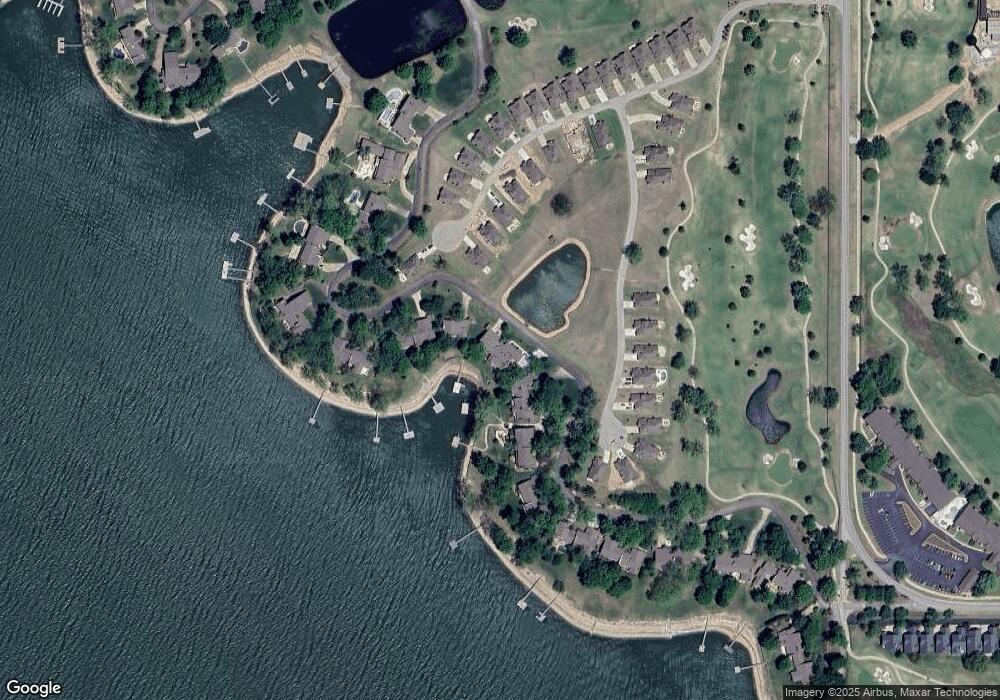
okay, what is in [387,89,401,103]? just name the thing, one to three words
swimming pool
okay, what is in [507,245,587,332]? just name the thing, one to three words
pond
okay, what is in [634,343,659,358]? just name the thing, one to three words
house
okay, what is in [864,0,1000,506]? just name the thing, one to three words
golf course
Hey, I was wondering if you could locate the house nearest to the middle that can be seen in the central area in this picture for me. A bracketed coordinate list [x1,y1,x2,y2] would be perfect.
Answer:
[475,326,521,370]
